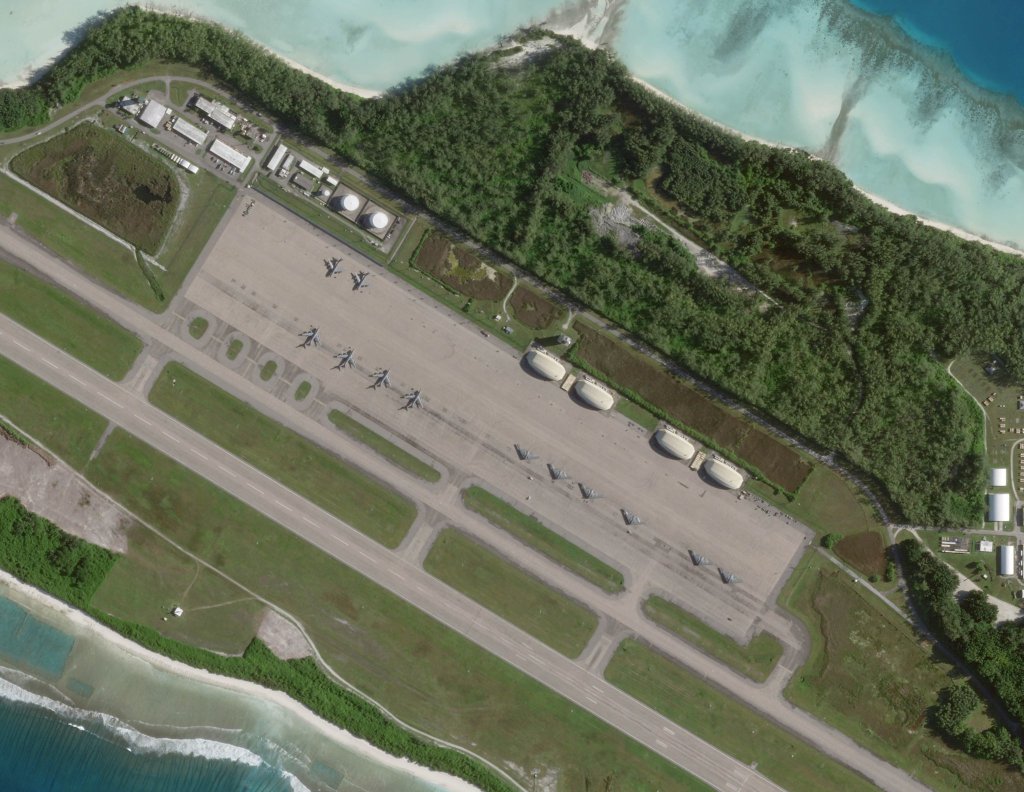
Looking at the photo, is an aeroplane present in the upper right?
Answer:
No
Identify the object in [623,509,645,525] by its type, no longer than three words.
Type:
airplane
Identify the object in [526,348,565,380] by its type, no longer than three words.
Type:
hangar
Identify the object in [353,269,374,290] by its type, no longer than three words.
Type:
airplane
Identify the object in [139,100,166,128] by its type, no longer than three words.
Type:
building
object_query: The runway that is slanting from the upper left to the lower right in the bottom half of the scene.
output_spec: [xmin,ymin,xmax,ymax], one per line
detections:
[0,313,787,792]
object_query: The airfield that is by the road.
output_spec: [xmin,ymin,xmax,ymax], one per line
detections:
[0,187,938,792]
